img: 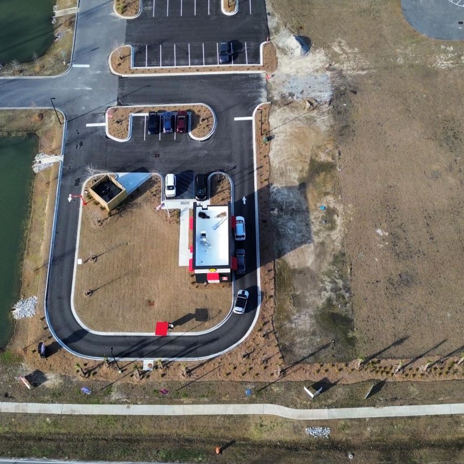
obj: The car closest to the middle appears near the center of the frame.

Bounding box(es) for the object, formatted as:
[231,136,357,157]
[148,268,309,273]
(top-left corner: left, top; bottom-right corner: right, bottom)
[235,219,247,244]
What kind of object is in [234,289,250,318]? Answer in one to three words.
car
